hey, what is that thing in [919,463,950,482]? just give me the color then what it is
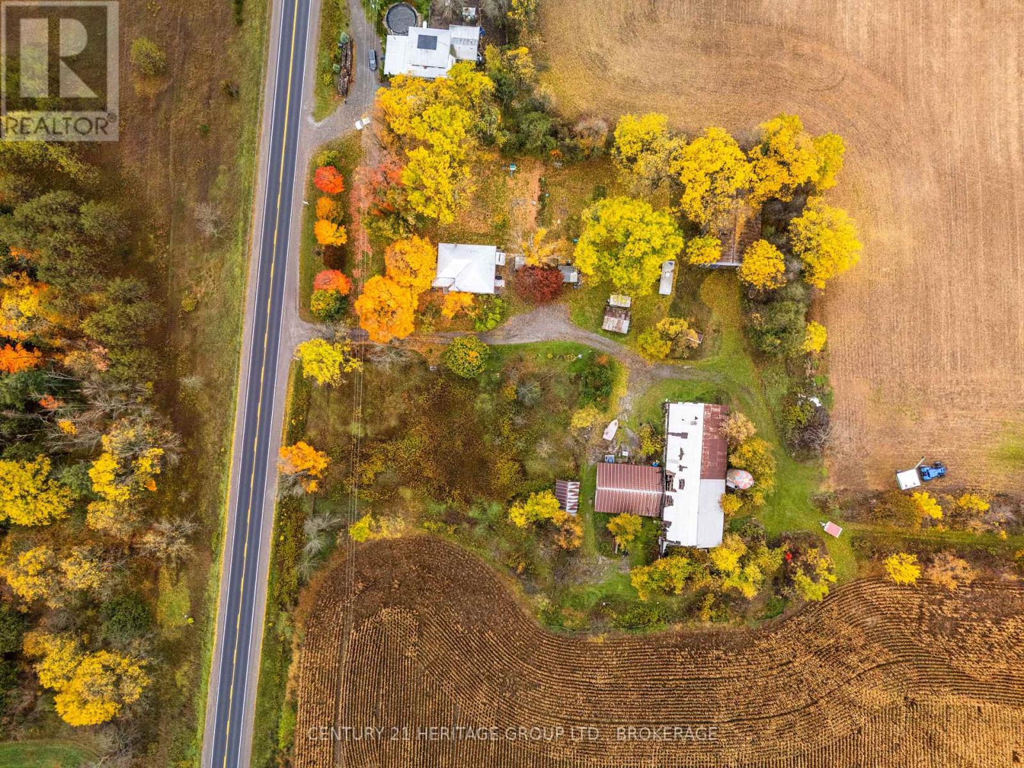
blue work vehicle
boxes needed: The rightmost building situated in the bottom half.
[657,400,730,561]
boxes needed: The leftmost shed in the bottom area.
[556,480,578,515]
